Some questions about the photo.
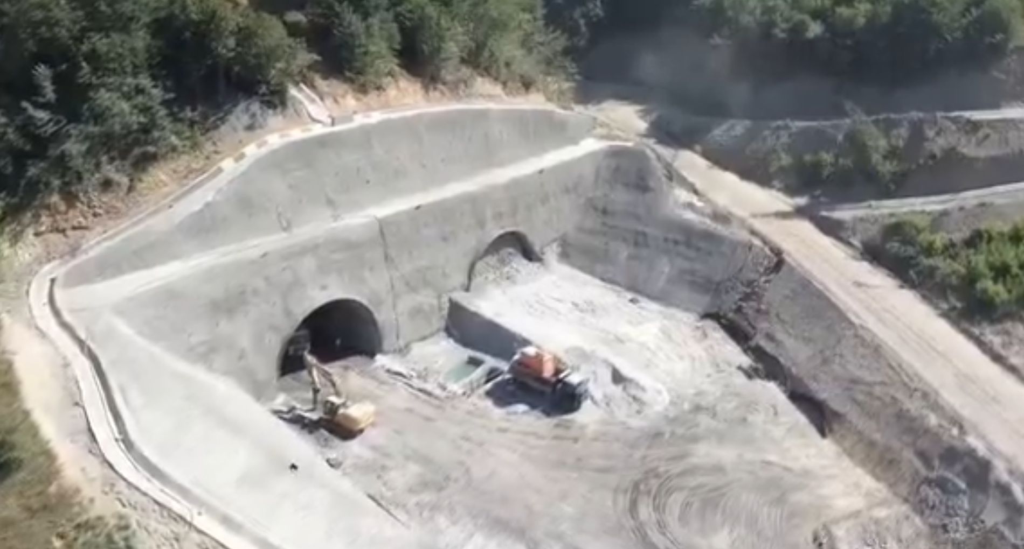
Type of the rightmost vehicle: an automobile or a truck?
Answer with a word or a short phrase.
truck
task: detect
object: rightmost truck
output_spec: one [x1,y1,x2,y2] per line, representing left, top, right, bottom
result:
[508,340,595,413]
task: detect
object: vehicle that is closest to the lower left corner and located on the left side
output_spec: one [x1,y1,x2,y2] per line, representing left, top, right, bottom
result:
[308,350,378,445]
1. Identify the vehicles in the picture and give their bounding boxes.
[508,340,595,413]
[308,350,378,445]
